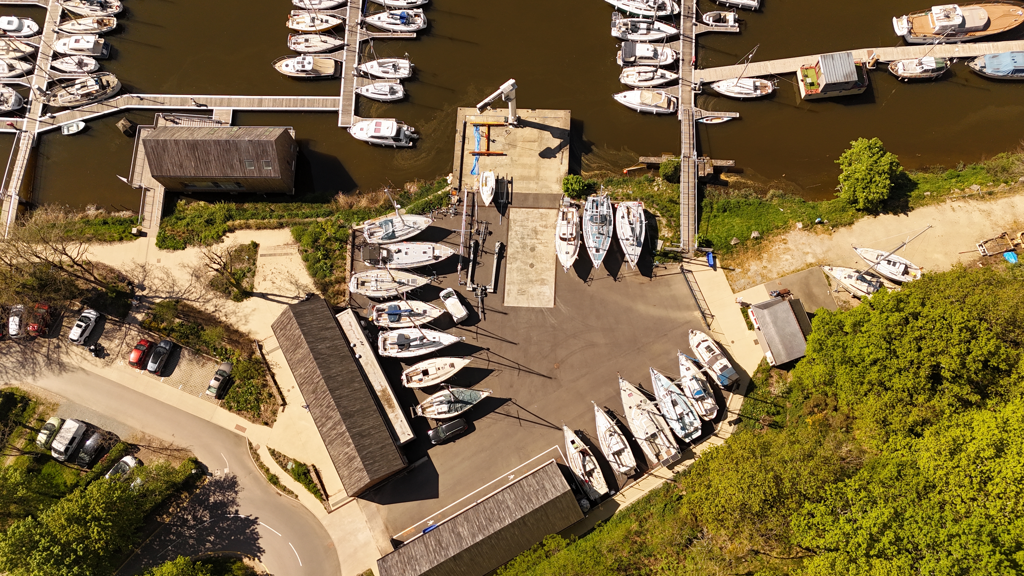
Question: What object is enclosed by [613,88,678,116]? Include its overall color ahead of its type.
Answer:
white boat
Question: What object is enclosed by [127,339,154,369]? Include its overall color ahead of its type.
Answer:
red car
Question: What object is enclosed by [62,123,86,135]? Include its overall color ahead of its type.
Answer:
white boat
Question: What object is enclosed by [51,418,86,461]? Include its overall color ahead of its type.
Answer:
white car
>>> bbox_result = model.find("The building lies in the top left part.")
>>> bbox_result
[141,126,293,188]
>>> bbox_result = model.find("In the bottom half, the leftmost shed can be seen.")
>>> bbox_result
[271,299,418,497]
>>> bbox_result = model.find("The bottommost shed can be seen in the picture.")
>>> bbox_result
[376,459,585,576]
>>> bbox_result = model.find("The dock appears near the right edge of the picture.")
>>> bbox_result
[694,42,1024,84]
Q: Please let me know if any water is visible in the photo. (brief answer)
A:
Yes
